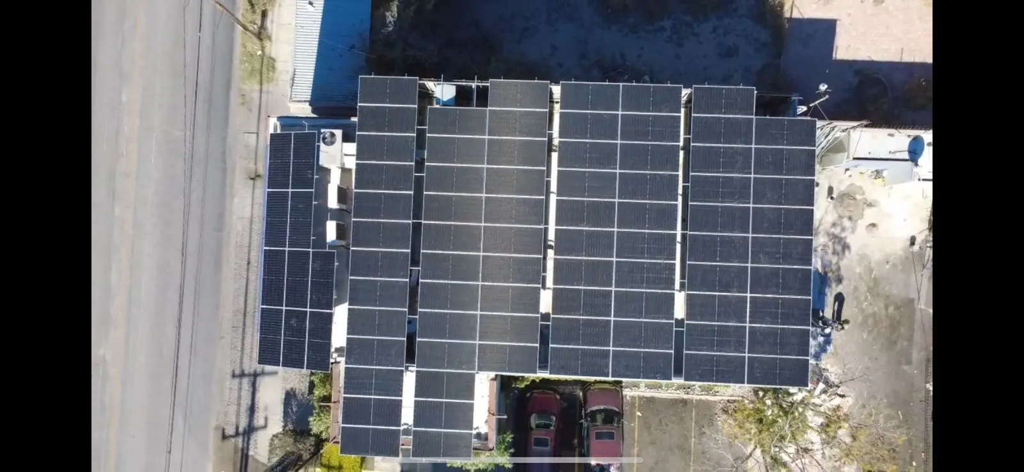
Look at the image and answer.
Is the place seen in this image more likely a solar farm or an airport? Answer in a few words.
solar farm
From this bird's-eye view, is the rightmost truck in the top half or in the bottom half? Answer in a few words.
bottom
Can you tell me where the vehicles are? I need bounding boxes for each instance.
[522,389,564,472]
[580,381,627,472]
